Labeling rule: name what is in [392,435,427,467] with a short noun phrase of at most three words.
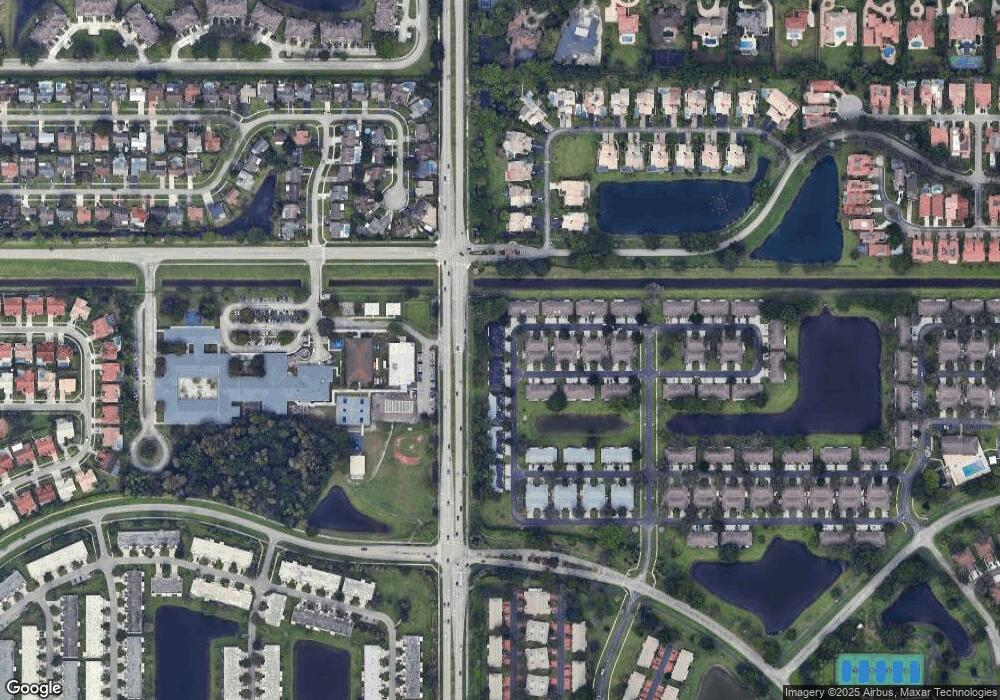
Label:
baseball field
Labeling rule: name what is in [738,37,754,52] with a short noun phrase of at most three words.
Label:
swimming pool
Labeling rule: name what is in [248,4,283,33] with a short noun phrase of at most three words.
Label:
building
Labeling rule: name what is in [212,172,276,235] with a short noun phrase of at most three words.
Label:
pond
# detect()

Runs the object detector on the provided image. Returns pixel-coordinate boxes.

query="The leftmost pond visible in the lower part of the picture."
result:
[151,605,239,700]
